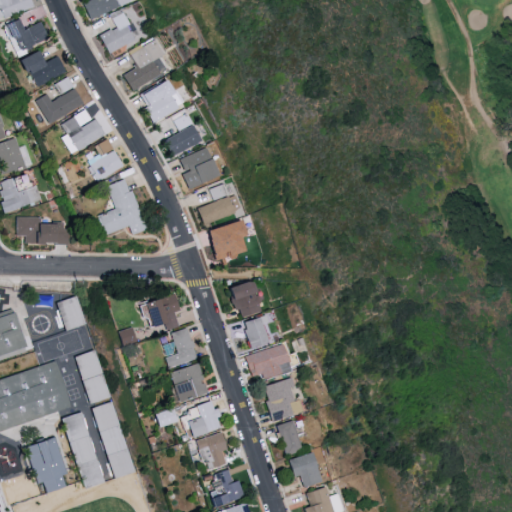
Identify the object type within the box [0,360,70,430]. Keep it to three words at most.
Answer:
building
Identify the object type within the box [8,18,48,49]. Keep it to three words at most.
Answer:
house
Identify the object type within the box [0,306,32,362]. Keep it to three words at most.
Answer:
building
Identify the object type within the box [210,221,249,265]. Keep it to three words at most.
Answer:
house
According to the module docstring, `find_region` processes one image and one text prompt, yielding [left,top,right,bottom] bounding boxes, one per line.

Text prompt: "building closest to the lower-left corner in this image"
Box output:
[28,438,69,494]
